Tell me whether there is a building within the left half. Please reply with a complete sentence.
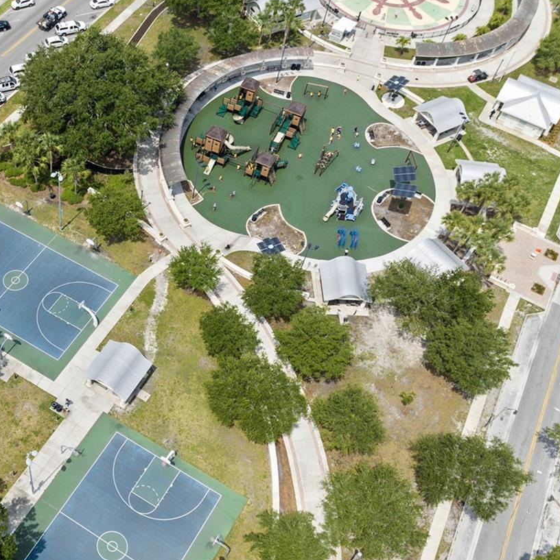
Yes, a building can be seen within the left half.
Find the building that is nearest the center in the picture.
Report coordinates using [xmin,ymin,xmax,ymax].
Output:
[315,255,373,313]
